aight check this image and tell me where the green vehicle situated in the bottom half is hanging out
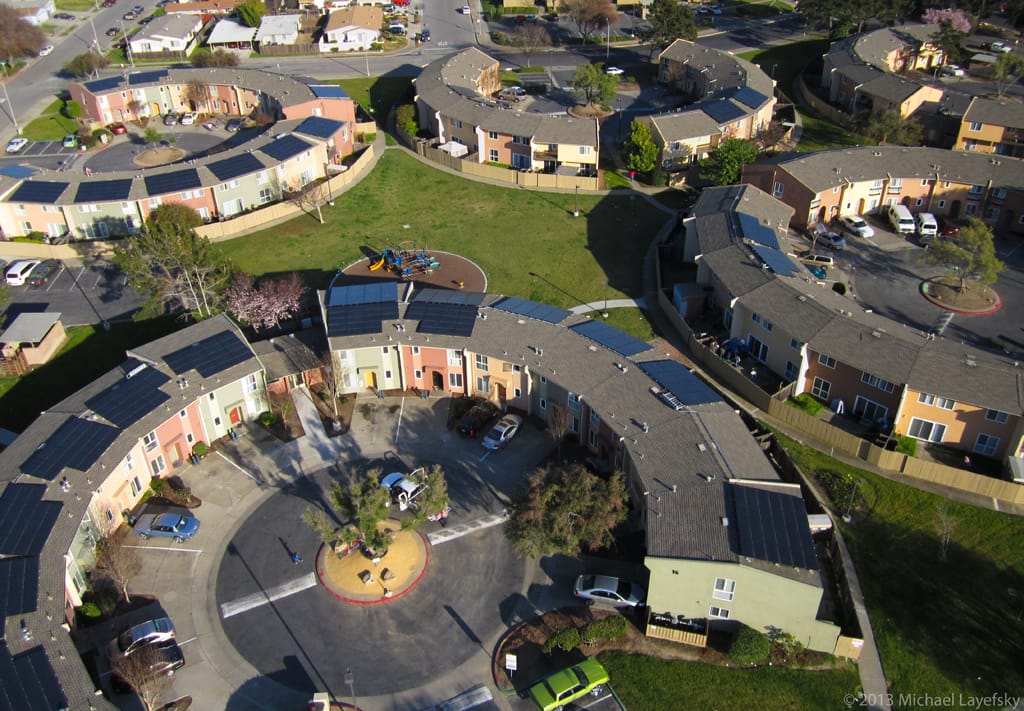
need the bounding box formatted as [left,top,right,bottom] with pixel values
[528,660,615,711]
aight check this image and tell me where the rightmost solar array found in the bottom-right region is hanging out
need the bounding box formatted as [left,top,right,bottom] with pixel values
[732,478,819,571]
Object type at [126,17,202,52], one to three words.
house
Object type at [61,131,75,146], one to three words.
car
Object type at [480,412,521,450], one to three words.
car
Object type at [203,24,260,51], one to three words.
house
